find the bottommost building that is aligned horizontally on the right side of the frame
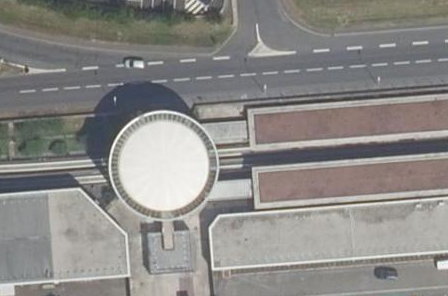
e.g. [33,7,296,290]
[211,198,448,275]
